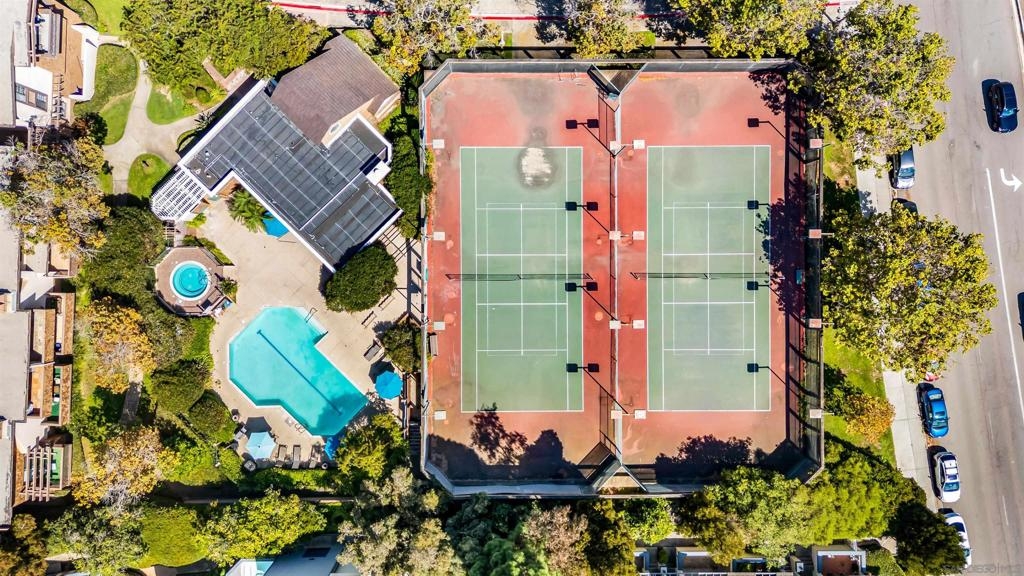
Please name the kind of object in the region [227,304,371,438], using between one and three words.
swimming pool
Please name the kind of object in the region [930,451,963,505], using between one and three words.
car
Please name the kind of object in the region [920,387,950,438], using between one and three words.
car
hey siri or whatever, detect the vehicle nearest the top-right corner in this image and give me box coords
[986,80,1018,134]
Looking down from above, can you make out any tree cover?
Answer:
Yes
